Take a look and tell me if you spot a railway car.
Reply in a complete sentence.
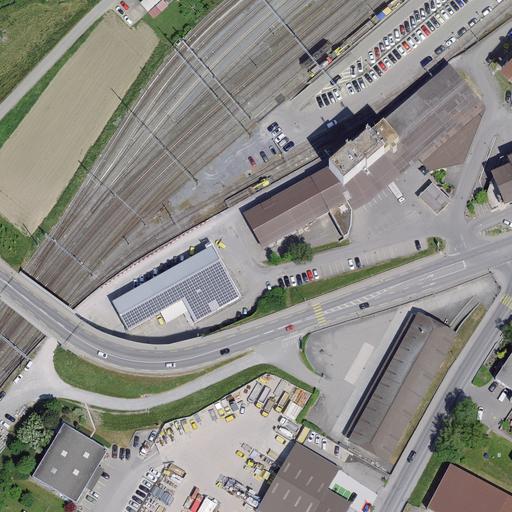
Yes, looking at the shot, I can spot a railway car.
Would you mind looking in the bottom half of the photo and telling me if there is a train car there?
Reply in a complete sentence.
No, in the bottom half of the photo there is no train car.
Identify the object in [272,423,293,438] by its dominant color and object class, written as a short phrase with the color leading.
white vehicle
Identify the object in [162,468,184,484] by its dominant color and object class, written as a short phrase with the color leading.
white vehicle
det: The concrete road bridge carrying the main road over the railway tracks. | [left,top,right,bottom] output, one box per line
[0,258,86,350]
